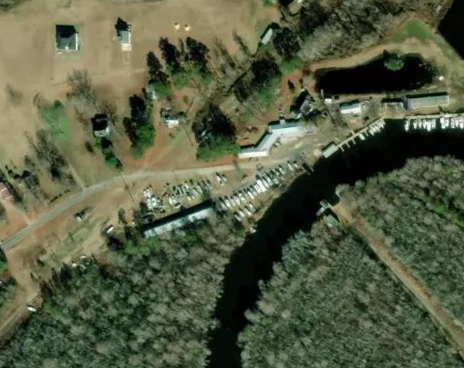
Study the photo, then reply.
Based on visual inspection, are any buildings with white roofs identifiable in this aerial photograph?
Yes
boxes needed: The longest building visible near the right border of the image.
[405,92,450,111]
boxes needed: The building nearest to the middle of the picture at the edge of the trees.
[238,147,269,161]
